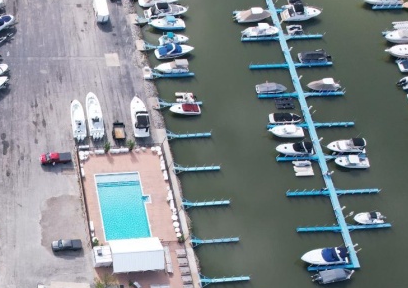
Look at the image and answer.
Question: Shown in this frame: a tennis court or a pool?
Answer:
pool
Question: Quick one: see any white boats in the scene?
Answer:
Yes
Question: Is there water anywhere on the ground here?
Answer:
Yes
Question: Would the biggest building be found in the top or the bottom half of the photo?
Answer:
bottom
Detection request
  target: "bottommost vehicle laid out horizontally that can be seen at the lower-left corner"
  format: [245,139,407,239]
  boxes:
[51,240,85,254]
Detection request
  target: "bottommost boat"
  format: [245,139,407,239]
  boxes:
[313,270,352,286]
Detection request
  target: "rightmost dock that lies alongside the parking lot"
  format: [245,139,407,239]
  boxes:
[270,0,363,269]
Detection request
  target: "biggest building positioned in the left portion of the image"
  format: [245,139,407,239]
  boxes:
[108,240,165,277]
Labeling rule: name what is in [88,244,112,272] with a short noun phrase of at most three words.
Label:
building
